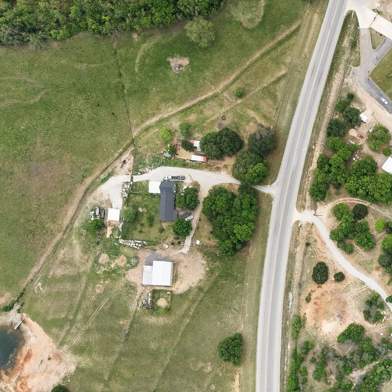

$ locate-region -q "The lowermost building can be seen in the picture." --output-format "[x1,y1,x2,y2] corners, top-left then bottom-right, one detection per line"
[143,261,174,286]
